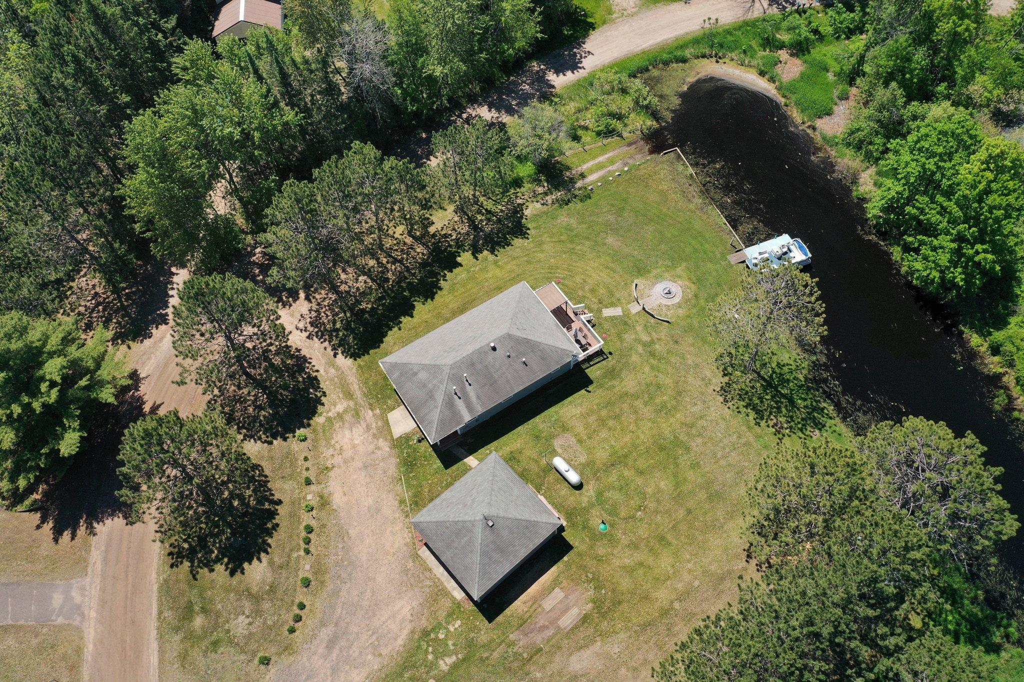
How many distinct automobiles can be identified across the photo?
none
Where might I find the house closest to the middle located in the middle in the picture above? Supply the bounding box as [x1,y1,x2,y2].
[377,280,583,462]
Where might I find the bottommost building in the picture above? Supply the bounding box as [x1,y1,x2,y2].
[410,451,562,605]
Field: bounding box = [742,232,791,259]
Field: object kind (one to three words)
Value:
pier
